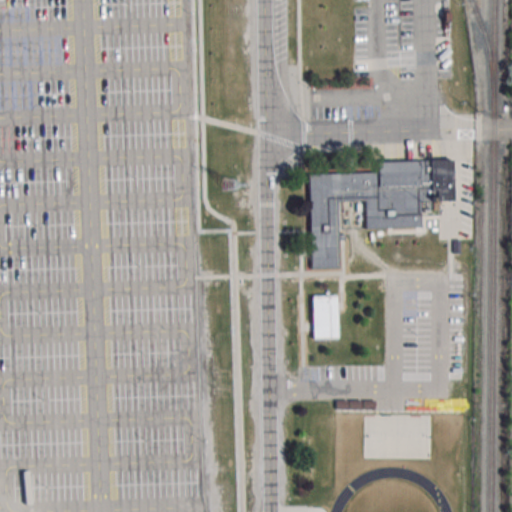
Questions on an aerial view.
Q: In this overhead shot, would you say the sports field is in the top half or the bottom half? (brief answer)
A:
bottom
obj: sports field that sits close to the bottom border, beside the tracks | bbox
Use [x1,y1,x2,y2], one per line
[330,412,462,512]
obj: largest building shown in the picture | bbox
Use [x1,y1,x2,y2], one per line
[308,157,456,269]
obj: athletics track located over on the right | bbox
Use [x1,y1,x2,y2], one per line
[332,468,452,512]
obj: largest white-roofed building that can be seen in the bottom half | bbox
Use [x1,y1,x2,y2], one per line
[310,290,340,342]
